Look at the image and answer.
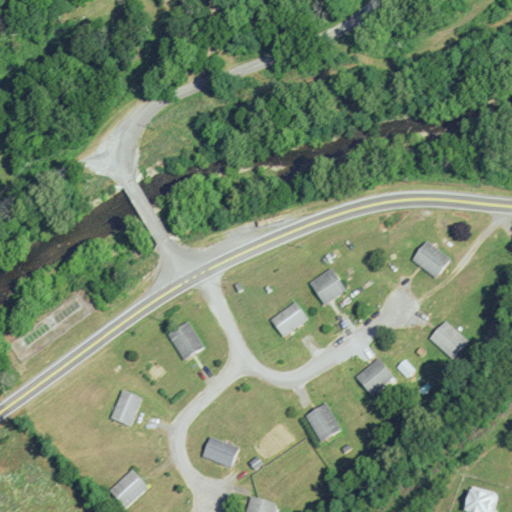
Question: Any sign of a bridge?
Yes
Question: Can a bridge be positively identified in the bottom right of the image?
No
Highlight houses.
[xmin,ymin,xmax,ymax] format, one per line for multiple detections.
[464,486,498,512]
[169,322,204,362]
[112,390,143,426]
[306,404,341,443]
[430,322,468,359]
[202,437,242,468]
[247,496,278,512]
[309,268,346,304]
[413,242,450,278]
[110,470,148,508]
[358,360,392,390]
[270,302,308,338]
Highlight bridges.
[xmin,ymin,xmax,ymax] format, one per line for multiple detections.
[119,174,173,248]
